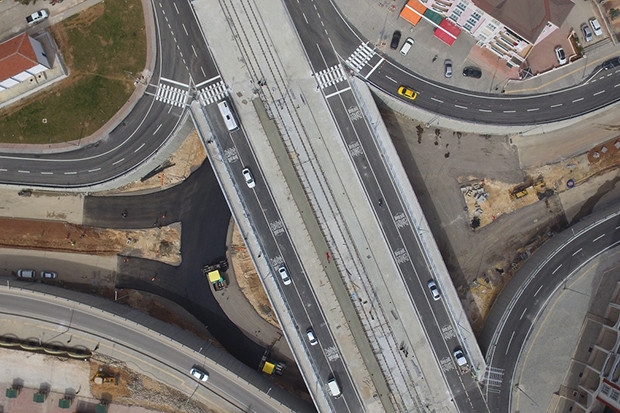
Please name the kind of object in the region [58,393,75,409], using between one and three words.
umbrella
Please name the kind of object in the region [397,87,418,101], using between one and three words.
car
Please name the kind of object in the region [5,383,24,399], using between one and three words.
umbrella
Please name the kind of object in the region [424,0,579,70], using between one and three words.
building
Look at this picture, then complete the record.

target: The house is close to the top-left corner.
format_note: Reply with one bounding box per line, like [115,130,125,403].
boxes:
[0,31,50,92]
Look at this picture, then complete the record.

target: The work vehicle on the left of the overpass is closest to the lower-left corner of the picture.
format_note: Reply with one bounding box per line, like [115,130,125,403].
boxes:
[93,371,121,385]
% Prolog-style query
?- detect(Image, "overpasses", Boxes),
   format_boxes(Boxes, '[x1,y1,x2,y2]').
[186,0,496,413]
